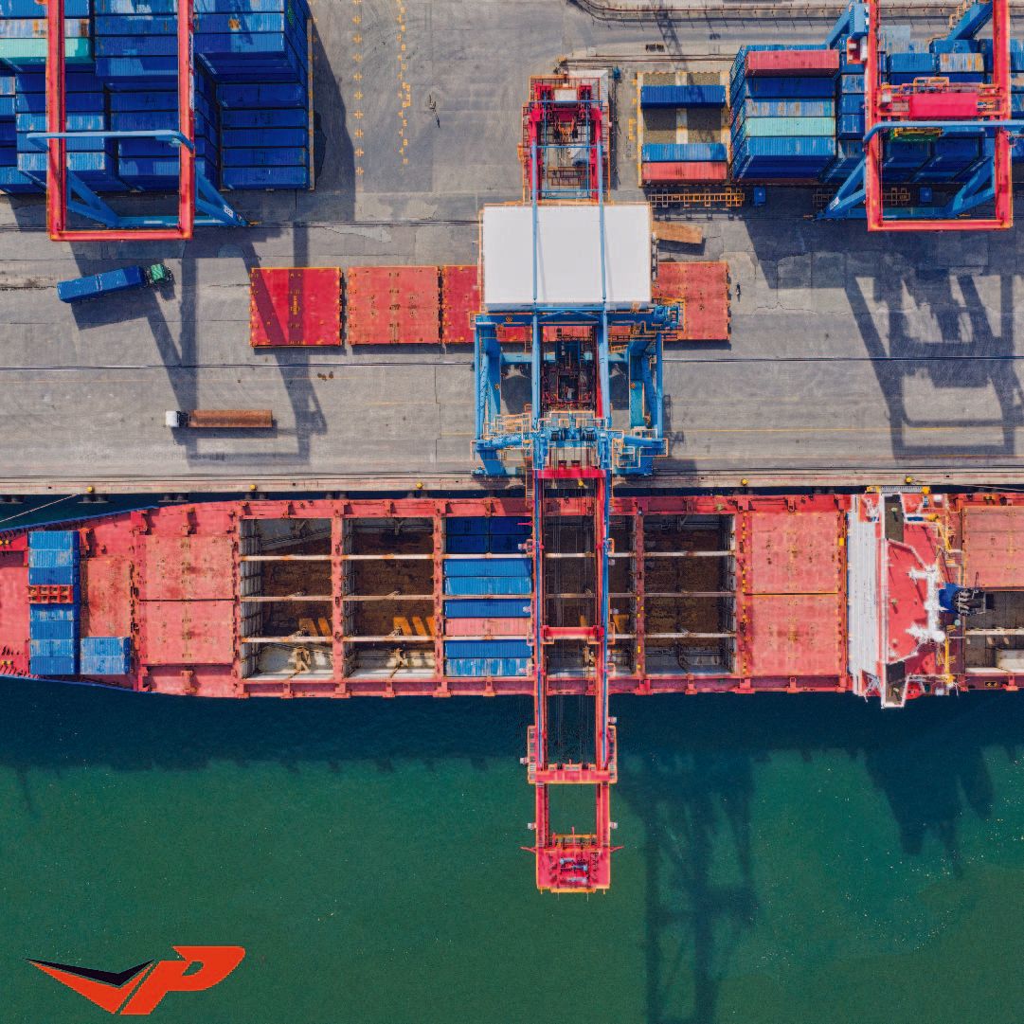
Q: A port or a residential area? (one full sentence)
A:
This looks like a port.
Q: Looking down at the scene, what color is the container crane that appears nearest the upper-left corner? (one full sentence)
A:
The container crane that appears nearest the upper-left corner is red.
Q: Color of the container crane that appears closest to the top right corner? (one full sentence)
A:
The container crane that appears closest to the top right corner is red.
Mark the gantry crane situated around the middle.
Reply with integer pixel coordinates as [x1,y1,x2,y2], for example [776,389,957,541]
[466,69,686,901]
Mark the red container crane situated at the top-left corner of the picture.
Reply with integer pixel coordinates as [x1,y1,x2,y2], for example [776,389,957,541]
[36,0,256,242]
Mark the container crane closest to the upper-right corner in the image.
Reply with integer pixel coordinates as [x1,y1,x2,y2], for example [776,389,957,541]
[806,0,1016,232]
